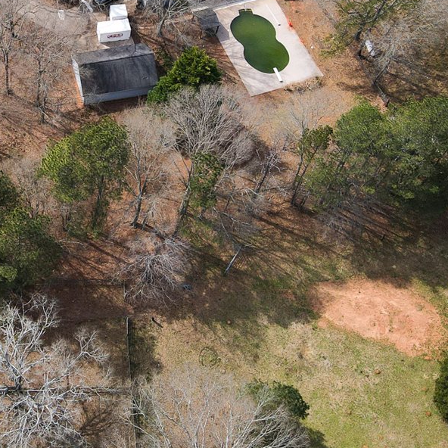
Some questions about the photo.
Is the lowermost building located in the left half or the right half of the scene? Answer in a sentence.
It is on the left.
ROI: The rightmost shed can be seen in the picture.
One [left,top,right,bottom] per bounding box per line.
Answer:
[191,9,220,37]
